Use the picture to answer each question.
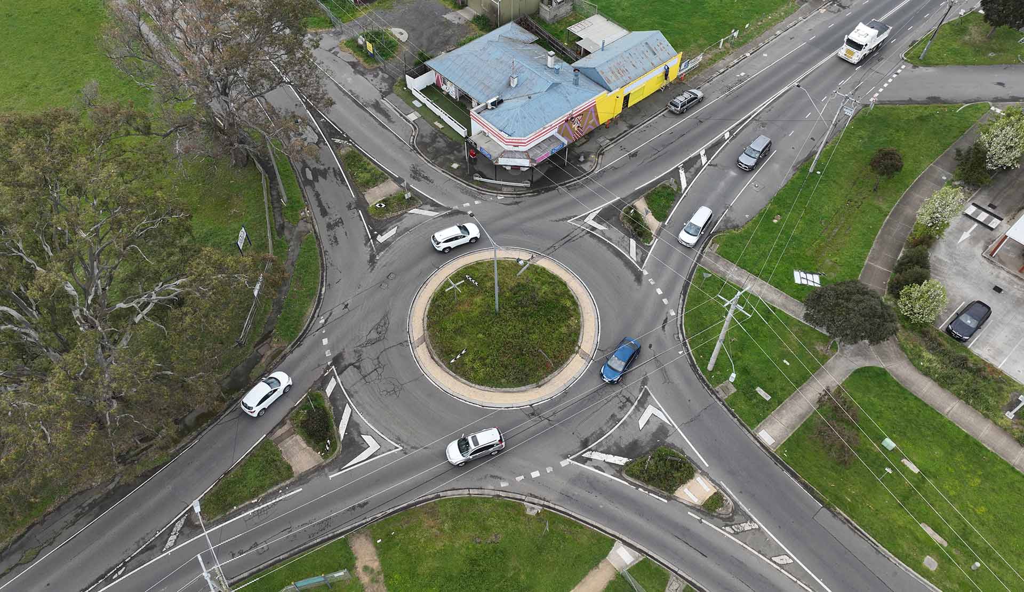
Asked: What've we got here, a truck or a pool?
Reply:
truck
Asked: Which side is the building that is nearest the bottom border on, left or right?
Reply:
right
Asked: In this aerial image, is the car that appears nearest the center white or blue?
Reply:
white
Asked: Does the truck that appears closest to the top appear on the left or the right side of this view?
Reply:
right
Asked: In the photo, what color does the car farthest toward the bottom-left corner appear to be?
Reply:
white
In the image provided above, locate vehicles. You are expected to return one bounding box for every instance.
[679,205,715,248]
[838,17,899,66]
[737,134,773,172]
[948,299,994,345]
[444,424,507,467]
[238,372,296,420]
[430,222,481,252]
[600,334,644,385]
[666,89,707,116]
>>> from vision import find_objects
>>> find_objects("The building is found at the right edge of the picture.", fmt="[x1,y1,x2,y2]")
[981,216,1024,279]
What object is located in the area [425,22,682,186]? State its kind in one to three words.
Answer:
building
